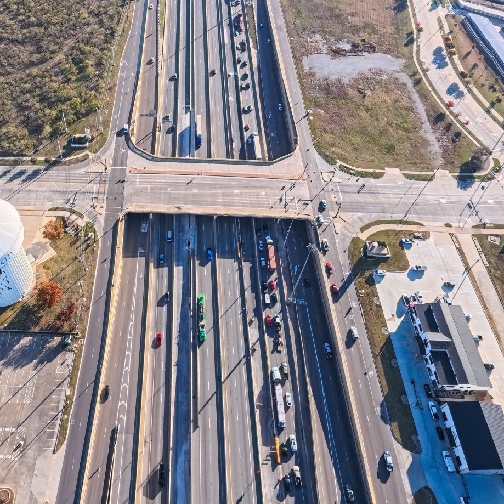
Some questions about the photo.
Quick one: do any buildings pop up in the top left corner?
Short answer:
No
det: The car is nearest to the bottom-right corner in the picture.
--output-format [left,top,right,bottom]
[443,454,456,470]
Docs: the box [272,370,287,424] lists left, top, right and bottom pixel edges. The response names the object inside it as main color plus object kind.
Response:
white vehicle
